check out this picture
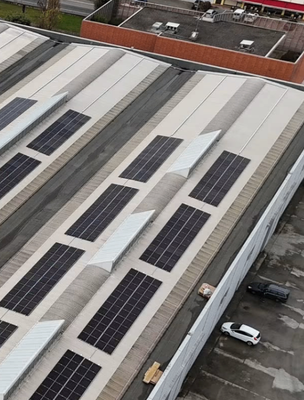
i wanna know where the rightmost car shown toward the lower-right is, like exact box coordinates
[247,279,292,302]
